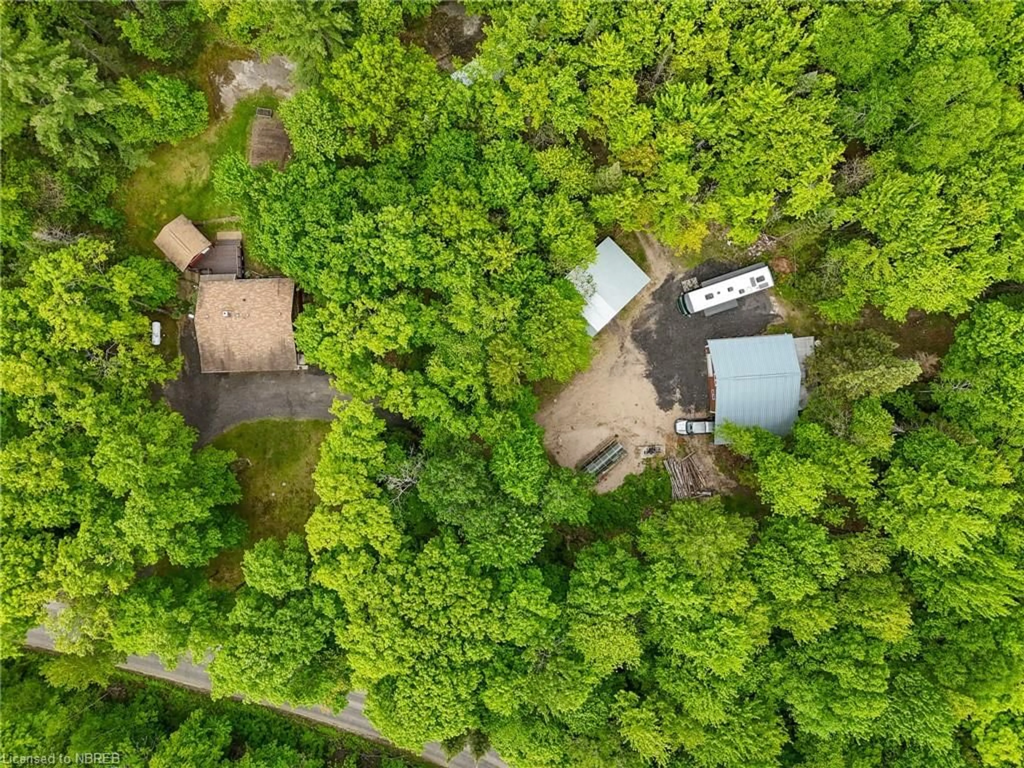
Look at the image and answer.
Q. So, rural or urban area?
rural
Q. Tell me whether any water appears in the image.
No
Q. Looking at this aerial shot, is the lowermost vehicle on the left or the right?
right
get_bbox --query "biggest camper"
[670,261,775,319]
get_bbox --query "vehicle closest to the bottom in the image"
[673,416,713,436]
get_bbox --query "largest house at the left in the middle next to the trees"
[188,273,300,373]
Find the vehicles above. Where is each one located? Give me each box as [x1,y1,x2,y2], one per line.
[673,416,713,436]
[670,261,775,319]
